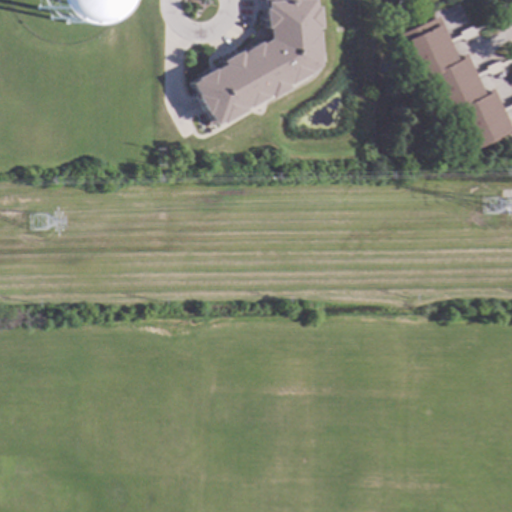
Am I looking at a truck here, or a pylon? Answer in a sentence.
There is a pylon in the scene.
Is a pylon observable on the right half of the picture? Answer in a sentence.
Yes, on the right half of the picture there is a pylon.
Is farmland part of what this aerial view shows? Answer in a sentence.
Yes, the picture does contain farmland.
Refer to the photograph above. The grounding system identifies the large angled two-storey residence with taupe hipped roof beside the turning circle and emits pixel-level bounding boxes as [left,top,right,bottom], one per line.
[190,0,328,122]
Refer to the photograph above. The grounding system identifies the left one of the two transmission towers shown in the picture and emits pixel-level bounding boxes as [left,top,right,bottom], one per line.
[30,206,66,237]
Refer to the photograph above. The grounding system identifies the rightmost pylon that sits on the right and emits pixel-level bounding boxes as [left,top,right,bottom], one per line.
[483,194,512,216]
